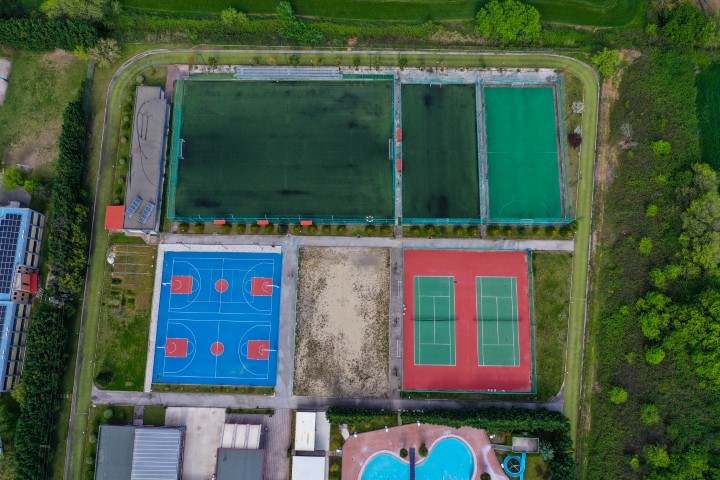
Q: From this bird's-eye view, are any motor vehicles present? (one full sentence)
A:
No, there isn't any motor vehicle down there.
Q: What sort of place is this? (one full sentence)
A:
The area seen from above is a sports ground.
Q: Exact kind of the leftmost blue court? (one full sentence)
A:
The leftmost blue court in the image is a basketball court.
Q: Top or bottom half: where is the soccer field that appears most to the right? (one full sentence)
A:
It is in the top half that the soccer field that appears most to the right appears.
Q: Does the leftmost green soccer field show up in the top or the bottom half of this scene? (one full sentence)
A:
It is in the top half that the leftmost green soccer field appears.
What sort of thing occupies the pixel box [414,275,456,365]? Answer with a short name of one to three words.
tennis court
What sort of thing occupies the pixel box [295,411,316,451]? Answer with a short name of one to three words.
shed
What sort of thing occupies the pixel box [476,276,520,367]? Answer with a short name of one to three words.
tennis court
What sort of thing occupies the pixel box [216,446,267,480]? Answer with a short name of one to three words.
building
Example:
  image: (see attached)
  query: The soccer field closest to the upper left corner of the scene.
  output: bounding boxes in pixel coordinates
[173,79,394,219]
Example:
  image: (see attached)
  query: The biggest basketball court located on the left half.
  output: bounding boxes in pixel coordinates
[152,251,282,387]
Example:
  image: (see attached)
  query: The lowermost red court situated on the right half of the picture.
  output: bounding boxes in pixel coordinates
[403,249,533,391]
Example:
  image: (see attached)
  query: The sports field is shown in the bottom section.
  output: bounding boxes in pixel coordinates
[293,248,390,397]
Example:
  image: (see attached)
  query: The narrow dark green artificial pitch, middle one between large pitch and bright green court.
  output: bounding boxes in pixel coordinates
[402,84,481,219]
